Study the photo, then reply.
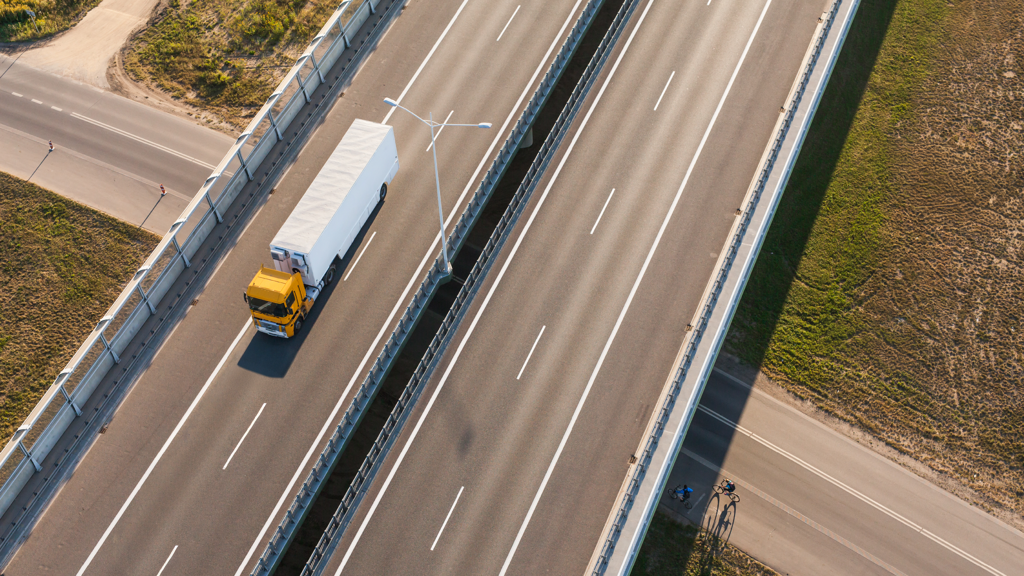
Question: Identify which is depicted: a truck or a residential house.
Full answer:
Visible in the photo is a truck.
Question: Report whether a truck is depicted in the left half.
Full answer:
Yes, I can see a truck in the left half.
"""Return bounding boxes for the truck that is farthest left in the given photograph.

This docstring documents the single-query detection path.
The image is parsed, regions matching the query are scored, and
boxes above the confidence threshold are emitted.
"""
[244,119,398,337]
